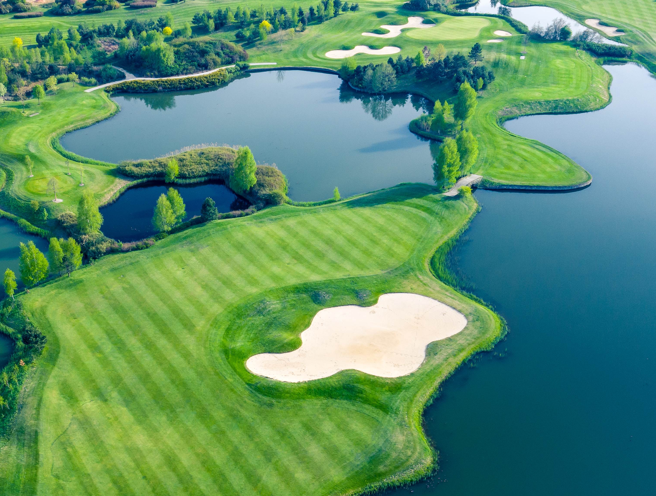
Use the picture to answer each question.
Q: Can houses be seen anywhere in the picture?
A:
No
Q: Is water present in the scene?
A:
Yes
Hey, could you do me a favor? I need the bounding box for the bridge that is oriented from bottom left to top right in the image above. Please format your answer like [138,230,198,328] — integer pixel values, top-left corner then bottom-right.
[438,170,485,200]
